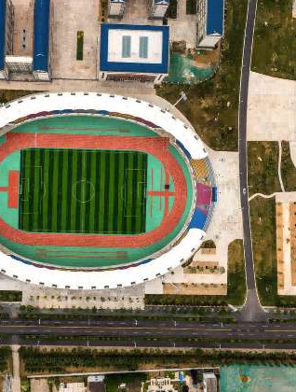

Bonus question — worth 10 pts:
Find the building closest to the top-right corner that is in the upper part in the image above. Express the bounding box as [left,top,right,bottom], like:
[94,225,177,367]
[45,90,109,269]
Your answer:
[199,0,225,48]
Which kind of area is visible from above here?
sports ground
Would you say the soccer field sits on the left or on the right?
left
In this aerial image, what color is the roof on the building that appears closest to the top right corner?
blue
